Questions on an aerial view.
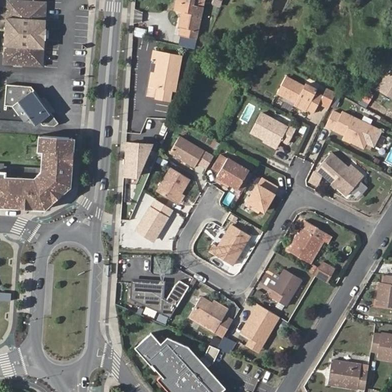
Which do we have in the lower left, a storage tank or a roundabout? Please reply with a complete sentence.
Visible in the lower left is a roundabout.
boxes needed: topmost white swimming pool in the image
[238,100,257,124]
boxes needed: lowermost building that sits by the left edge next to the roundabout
[0,136,76,210]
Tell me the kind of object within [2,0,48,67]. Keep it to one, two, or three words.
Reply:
building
